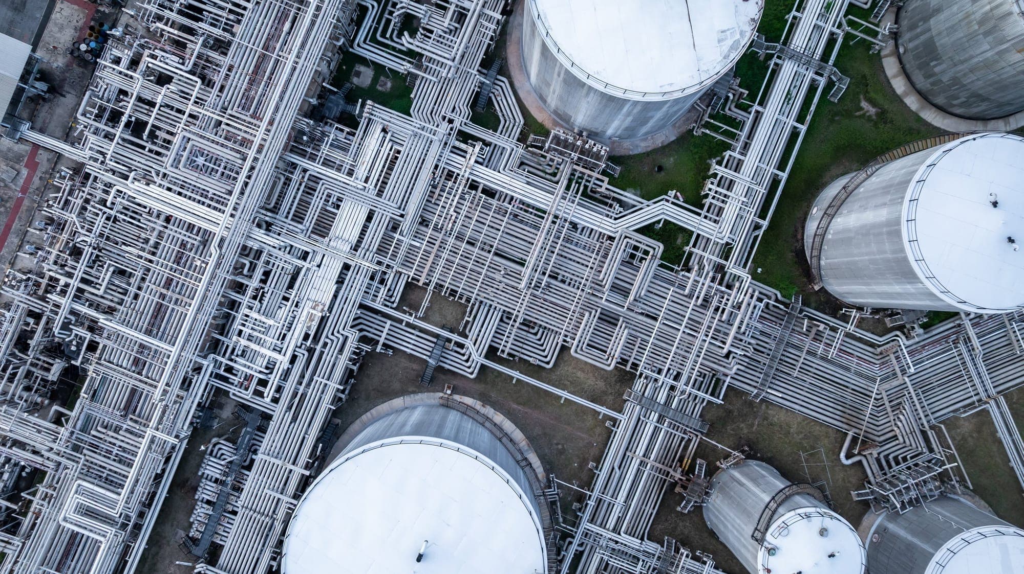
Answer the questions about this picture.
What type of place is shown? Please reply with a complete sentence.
This image shows an industrial area.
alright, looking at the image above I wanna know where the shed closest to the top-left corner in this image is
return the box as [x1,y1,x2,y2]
[0,34,59,131]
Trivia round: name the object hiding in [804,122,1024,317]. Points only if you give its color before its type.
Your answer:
white storage tank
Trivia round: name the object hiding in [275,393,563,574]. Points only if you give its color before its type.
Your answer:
white storage tank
